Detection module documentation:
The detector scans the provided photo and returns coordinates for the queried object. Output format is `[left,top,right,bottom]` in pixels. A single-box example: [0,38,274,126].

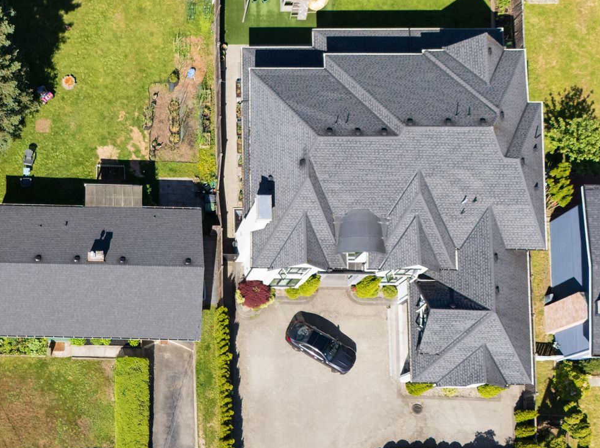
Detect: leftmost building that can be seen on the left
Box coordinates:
[0,202,205,344]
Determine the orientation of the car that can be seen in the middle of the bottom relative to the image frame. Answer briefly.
diagonally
